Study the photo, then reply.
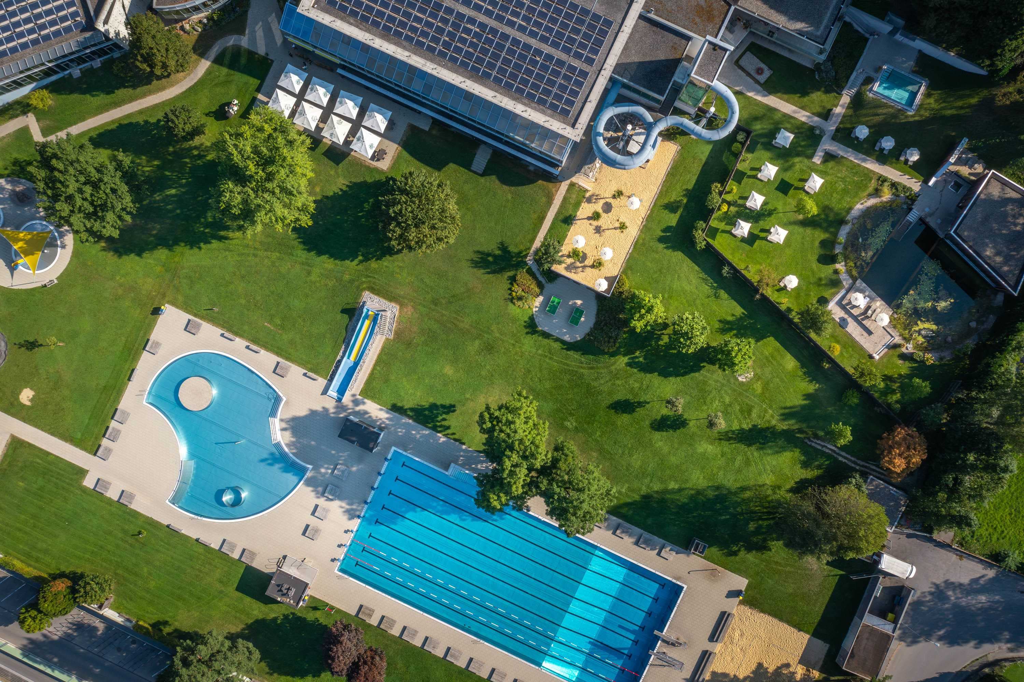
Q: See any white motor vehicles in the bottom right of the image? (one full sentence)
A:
Yes, a white motor vehicle can be seen in the bottom right of the image.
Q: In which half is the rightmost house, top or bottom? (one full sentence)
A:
The rightmost house is in the top half of the image.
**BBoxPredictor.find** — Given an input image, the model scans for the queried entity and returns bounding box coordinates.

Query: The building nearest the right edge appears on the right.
[936,170,1024,296]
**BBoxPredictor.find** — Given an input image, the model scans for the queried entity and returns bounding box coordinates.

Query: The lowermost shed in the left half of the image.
[266,554,319,609]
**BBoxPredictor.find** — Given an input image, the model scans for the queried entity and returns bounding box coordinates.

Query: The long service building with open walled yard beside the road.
[835,571,914,680]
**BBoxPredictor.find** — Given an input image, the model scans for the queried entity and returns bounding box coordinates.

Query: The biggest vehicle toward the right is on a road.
[873,552,914,579]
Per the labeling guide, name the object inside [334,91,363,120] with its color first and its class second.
white umbrella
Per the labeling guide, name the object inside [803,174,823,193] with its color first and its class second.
white umbrella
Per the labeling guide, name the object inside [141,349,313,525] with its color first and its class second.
blue swimming pool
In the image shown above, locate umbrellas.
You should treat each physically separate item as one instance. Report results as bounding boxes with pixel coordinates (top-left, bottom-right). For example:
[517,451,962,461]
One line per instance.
[350,128,381,159]
[782,276,796,289]
[363,104,392,134]
[876,314,889,326]
[334,91,363,120]
[774,129,794,148]
[905,148,921,161]
[745,191,765,211]
[768,224,788,244]
[757,162,776,181]
[803,174,823,193]
[293,101,323,131]
[322,115,352,145]
[600,247,612,259]
[881,137,894,150]
[278,65,308,94]
[268,89,298,119]
[304,78,334,108]
[627,197,640,209]
[595,278,608,291]
[731,219,751,239]
[572,235,585,248]
[855,125,868,139]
